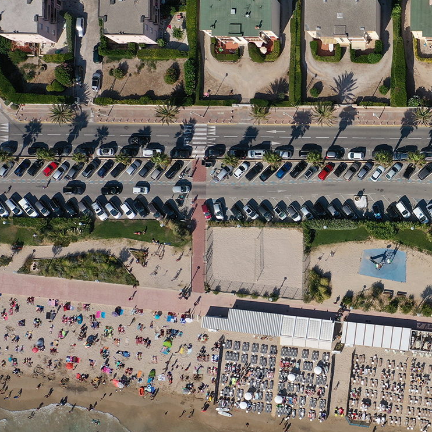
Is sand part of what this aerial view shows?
Yes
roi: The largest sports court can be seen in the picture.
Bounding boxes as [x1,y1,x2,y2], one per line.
[207,227,302,300]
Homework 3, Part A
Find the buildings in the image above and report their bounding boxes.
[341,322,432,352]
[200,0,281,50]
[201,309,335,350]
[410,0,432,51]
[99,0,169,44]
[305,0,385,51]
[0,0,68,42]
